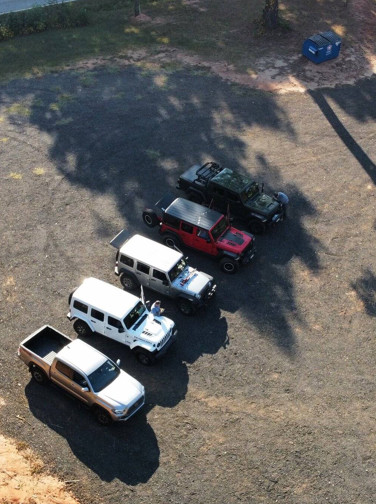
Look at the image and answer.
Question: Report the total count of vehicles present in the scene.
5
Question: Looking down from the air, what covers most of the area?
paved ground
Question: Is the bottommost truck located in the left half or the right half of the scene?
left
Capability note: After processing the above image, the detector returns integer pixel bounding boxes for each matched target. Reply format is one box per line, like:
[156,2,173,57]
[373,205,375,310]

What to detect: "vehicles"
[112,226,224,316]
[174,159,286,234]
[141,191,263,276]
[13,321,153,428]
[70,273,185,366]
